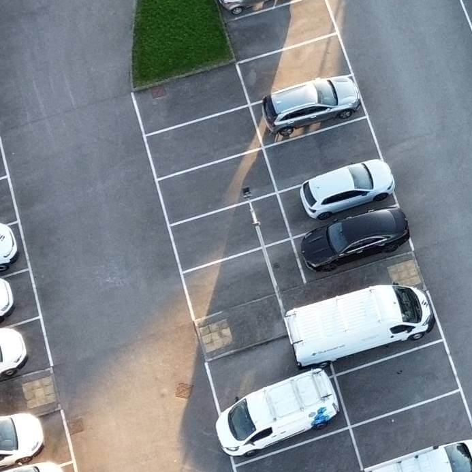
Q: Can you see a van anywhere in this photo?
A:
Yes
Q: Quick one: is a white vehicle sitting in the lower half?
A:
Yes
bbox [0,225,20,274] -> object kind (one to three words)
vehicle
